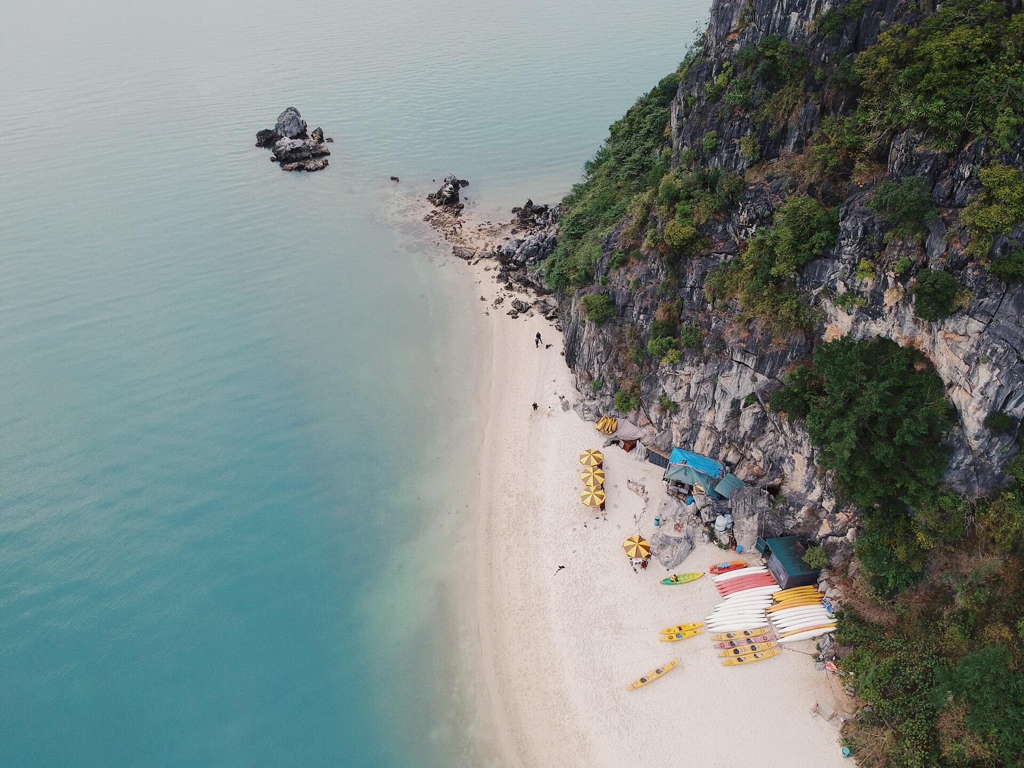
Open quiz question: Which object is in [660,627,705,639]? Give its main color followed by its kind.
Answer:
yellow boat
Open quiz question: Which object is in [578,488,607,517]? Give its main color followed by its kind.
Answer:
yellow umbrella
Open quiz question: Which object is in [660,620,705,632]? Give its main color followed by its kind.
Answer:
yellow boat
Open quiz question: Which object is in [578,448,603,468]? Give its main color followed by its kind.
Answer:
yellow umbrella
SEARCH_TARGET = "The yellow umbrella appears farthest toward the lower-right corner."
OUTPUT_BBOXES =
[620,535,652,568]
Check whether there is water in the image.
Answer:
Yes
